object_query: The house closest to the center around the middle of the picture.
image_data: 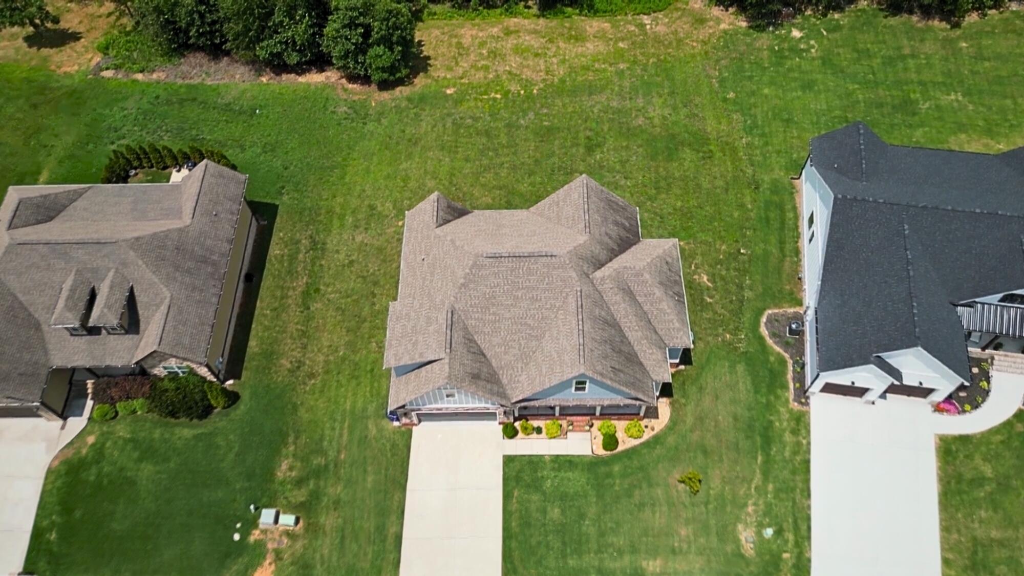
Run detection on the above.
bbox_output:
[382,175,694,432]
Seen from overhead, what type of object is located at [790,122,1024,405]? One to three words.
house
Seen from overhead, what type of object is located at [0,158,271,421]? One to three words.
house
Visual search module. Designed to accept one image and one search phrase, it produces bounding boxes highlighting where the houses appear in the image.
[0,158,271,421]
[382,175,694,432]
[790,122,1024,405]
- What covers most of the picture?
grass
